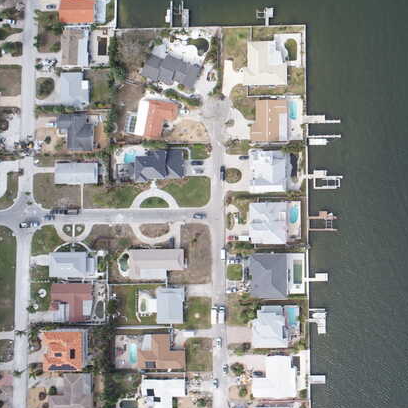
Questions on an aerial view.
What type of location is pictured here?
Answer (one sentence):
What you see here is a residential area.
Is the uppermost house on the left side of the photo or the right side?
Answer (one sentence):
The uppermost house is on the left side of the image.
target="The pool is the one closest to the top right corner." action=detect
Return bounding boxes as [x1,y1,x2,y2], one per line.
[284,38,298,62]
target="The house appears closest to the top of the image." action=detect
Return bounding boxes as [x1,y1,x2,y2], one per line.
[58,0,108,24]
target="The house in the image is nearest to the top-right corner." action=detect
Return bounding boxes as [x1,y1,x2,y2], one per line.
[245,40,287,85]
